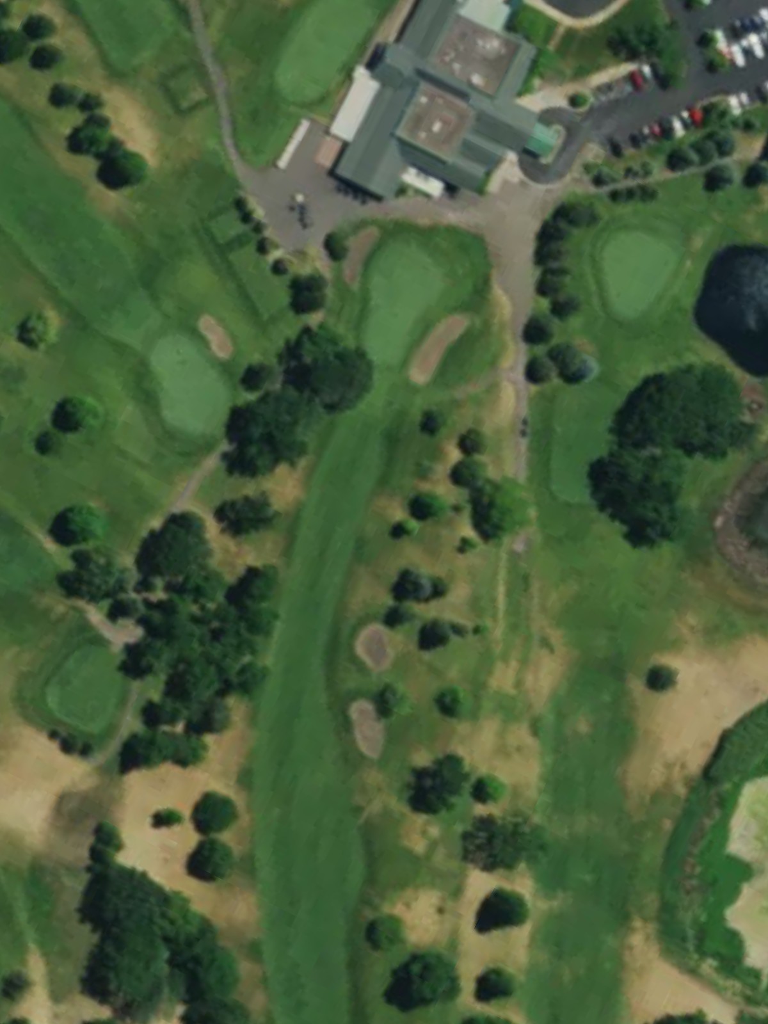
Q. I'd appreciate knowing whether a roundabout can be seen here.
No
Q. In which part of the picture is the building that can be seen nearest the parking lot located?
top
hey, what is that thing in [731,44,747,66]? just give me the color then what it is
white vehicle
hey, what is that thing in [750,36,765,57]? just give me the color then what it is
white vehicle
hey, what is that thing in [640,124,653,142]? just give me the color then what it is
gray vehicle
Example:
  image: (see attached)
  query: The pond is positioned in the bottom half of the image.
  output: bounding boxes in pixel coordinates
[725,777,768,970]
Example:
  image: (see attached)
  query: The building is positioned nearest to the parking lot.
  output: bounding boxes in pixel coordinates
[320,0,561,199]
